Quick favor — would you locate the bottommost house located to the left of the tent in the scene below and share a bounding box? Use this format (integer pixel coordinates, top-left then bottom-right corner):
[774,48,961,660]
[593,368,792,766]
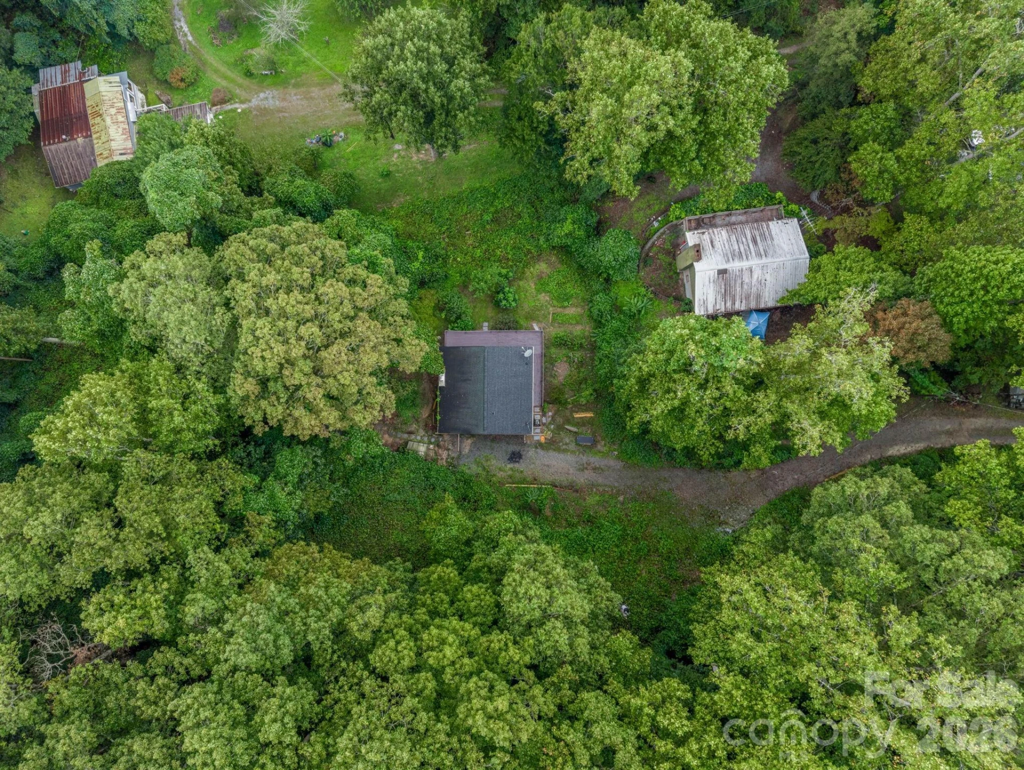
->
[437,330,543,436]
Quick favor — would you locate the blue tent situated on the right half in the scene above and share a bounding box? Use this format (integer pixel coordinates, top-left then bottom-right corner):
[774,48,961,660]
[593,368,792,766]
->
[745,310,771,341]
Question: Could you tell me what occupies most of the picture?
trees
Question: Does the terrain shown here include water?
No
